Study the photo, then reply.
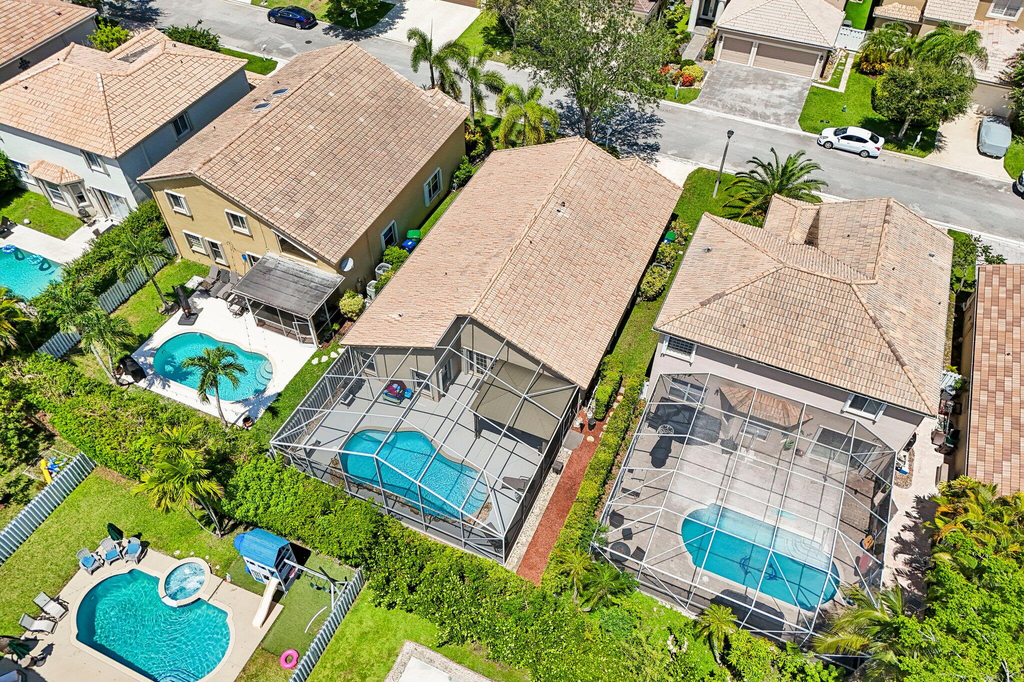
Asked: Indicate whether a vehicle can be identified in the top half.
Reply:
Yes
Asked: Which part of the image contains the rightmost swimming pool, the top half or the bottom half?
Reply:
bottom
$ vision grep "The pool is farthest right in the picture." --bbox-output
[675,497,847,618]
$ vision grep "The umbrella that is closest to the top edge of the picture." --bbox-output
[171,280,198,326]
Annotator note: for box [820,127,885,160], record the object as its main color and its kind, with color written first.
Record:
white car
